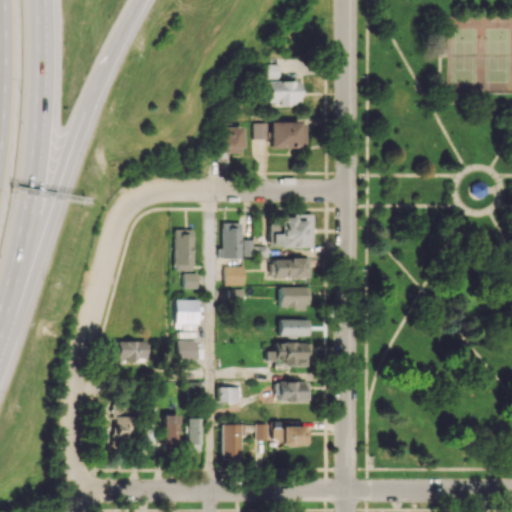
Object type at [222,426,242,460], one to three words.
building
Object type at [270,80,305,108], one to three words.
house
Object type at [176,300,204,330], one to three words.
building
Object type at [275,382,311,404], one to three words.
house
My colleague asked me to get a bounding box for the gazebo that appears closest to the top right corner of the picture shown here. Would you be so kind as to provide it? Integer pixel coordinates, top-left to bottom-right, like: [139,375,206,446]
[470,181,488,198]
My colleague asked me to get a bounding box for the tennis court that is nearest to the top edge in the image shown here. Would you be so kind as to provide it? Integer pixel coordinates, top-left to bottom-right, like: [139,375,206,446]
[448,18,512,93]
